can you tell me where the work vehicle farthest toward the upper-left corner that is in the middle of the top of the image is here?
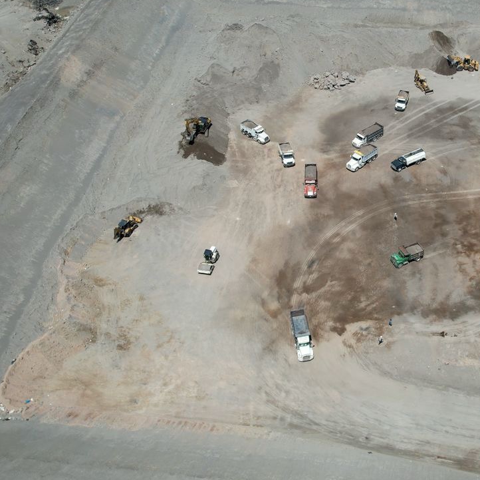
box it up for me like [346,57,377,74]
[179,118,214,140]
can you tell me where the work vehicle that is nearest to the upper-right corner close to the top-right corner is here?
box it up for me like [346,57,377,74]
[451,55,480,71]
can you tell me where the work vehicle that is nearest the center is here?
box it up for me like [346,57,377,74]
[195,251,220,275]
